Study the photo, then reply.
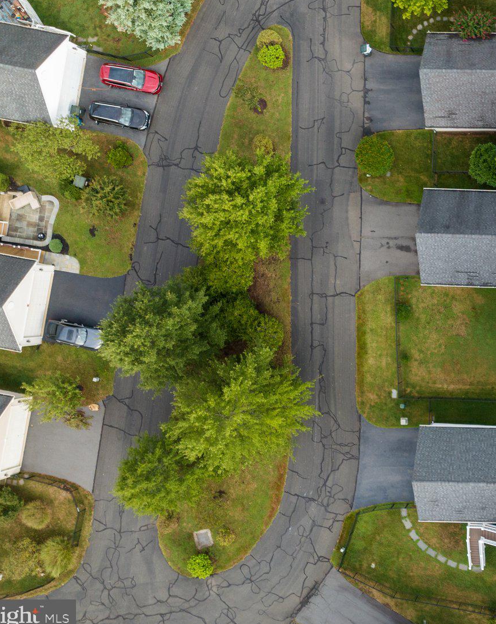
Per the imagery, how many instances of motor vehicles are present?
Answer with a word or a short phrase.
3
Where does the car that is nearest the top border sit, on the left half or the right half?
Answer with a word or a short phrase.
left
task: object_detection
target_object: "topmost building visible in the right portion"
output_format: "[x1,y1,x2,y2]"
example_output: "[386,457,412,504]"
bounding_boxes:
[419,32,496,133]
